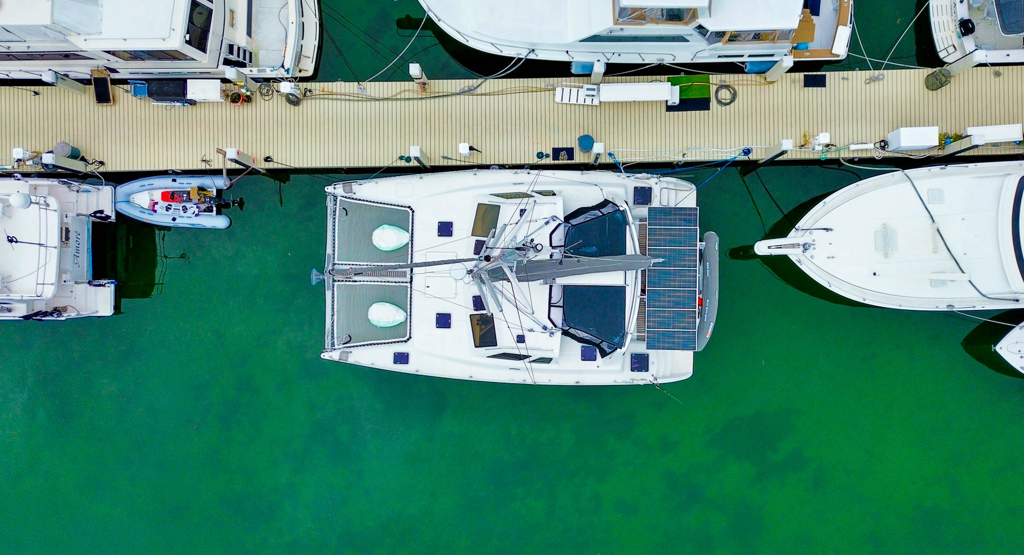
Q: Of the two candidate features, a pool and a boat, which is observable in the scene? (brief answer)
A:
boat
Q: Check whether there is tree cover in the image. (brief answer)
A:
No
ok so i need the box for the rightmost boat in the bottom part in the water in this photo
[992,322,1024,377]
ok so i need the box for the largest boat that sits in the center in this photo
[310,168,703,392]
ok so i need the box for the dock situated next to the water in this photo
[0,66,1024,174]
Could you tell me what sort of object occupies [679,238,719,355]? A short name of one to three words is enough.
boat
